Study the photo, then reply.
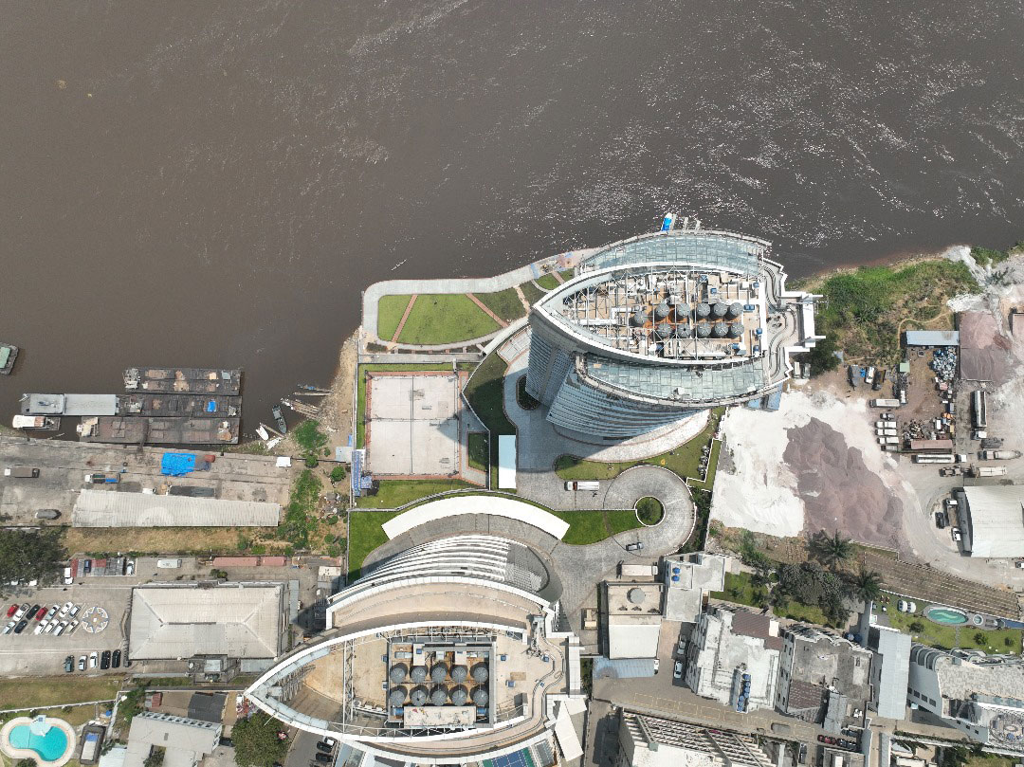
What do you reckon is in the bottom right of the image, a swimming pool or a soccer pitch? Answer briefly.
swimming pool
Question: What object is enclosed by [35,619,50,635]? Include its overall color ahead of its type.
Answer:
white car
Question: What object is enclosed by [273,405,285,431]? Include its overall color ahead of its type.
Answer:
gray boat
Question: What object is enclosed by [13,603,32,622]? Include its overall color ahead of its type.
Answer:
white vehicle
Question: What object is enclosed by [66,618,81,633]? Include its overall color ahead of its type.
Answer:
white car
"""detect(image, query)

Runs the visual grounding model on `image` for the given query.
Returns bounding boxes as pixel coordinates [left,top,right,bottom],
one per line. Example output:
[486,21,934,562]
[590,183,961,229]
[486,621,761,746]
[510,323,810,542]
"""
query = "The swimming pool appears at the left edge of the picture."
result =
[1,715,75,767]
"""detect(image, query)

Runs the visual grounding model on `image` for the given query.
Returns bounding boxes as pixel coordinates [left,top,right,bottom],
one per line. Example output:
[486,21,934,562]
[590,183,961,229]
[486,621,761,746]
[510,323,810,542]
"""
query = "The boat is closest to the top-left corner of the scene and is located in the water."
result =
[0,343,21,375]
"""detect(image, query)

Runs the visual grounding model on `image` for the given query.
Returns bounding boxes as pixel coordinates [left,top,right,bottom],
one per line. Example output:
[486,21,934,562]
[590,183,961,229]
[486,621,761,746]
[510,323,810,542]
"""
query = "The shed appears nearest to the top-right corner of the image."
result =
[900,330,959,348]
